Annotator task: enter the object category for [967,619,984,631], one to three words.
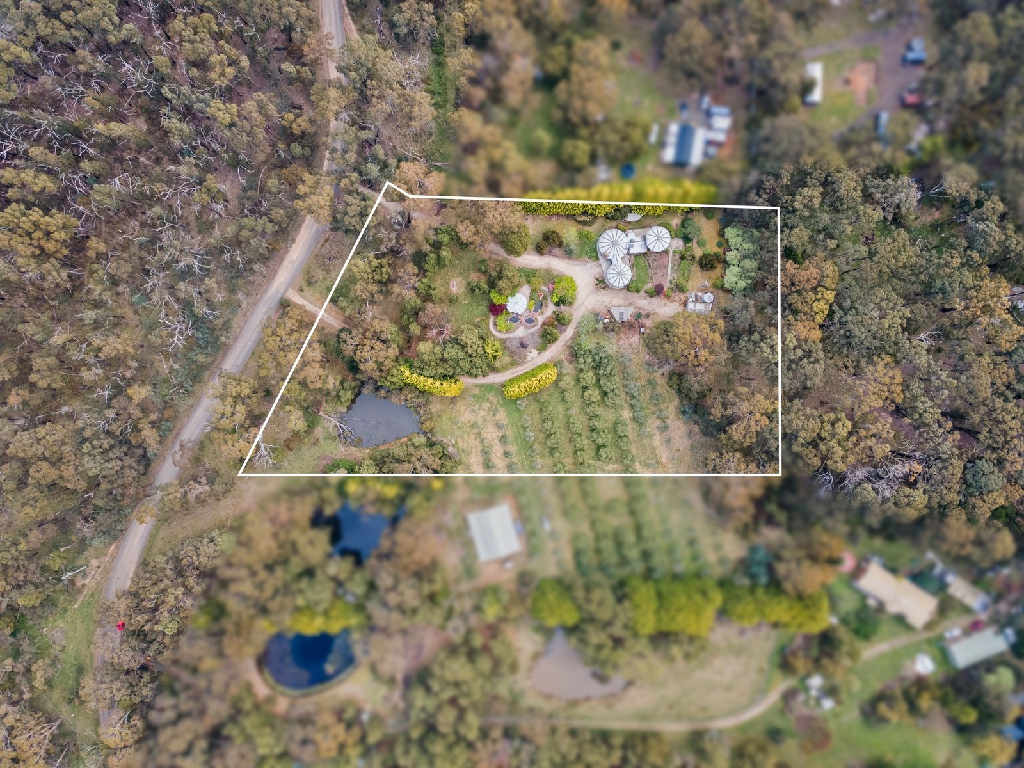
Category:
vehicle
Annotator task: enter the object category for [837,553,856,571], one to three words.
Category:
umbrella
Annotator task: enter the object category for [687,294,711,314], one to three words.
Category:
shed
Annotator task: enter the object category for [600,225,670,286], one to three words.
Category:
house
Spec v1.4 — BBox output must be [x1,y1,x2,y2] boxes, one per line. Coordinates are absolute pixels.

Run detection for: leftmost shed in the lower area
[467,502,521,561]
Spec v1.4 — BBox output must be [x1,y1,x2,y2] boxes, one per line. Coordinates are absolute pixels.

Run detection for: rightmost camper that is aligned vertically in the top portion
[876,110,889,138]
